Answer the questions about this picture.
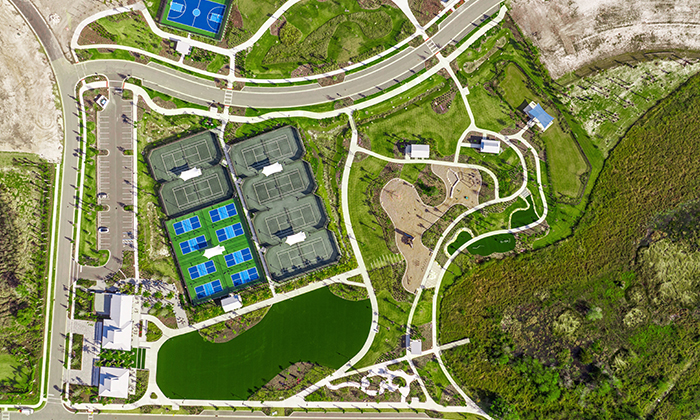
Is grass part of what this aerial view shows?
Yes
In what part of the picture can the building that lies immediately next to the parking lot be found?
bottom left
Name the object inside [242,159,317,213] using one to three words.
tennis court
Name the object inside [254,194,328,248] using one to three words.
tennis court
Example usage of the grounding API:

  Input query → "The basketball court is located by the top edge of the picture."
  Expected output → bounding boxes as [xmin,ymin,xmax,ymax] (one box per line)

[161,0,231,38]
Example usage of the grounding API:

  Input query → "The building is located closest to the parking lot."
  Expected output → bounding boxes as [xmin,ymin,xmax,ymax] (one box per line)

[94,293,135,350]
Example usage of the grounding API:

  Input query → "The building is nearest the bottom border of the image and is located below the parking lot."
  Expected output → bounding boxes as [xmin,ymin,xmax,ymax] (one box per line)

[98,366,131,398]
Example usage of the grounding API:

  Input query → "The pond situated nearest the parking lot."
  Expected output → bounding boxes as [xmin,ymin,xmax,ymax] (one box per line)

[154,285,372,401]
